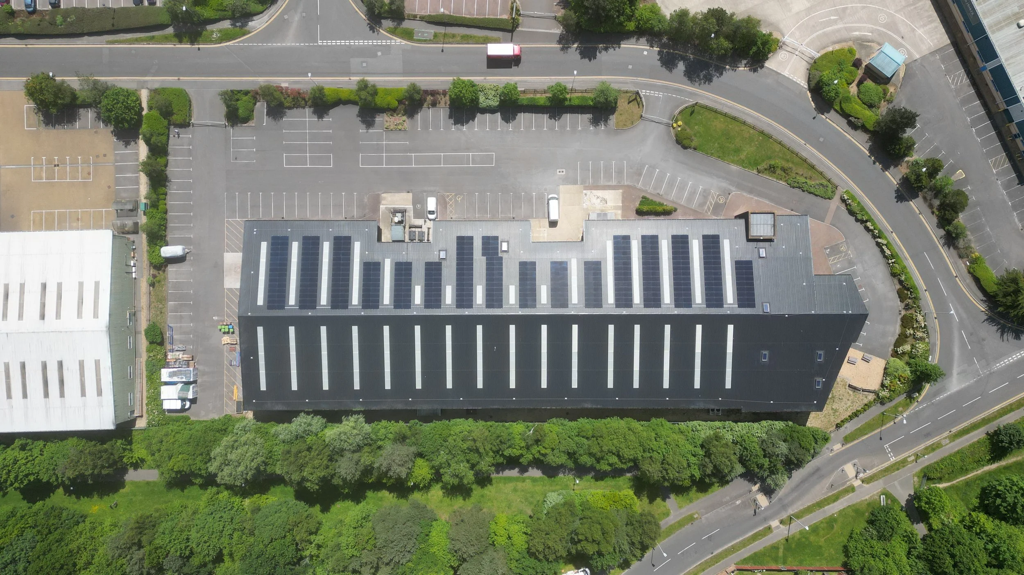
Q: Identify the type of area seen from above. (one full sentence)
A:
What you see here is an industrial area.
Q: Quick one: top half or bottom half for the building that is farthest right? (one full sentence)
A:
Seen from above, the building that is farthest right lies in the top half of the view.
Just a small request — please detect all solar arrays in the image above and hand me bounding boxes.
[703,234,723,309]
[330,235,351,310]
[671,234,692,309]
[584,260,602,309]
[613,234,632,309]
[424,261,442,309]
[393,261,412,310]
[267,236,288,310]
[735,259,755,309]
[550,261,568,309]
[641,235,661,309]
[362,261,380,310]
[299,235,320,310]
[456,236,473,309]
[519,261,536,309]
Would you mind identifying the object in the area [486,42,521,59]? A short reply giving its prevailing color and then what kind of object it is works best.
white vehicle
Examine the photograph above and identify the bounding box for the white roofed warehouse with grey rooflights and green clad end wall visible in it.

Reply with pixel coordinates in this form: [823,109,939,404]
[0,229,135,432]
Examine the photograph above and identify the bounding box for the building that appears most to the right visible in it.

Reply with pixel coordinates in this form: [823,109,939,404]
[944,0,1024,162]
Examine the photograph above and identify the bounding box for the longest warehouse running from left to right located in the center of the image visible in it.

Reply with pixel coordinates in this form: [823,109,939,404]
[238,211,868,419]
